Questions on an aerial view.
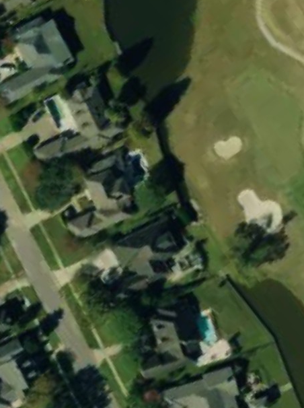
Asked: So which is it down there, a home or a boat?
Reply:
home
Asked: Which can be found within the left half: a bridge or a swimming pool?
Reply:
swimming pool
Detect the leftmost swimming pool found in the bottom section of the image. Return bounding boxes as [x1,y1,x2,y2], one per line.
[197,307,232,367]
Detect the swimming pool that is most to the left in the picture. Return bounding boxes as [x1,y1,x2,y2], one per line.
[43,94,78,131]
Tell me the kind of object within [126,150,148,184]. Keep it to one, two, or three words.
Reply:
swimming pool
